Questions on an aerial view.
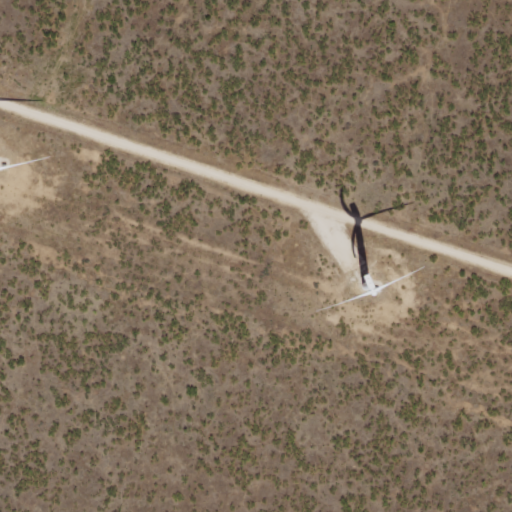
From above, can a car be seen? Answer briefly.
No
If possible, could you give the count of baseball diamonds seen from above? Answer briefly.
none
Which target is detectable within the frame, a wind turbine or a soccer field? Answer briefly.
wind turbine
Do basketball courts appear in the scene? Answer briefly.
No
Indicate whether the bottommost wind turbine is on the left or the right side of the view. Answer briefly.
right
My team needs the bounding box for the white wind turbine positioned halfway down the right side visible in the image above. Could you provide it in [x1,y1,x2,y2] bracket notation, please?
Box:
[322,268,430,312]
